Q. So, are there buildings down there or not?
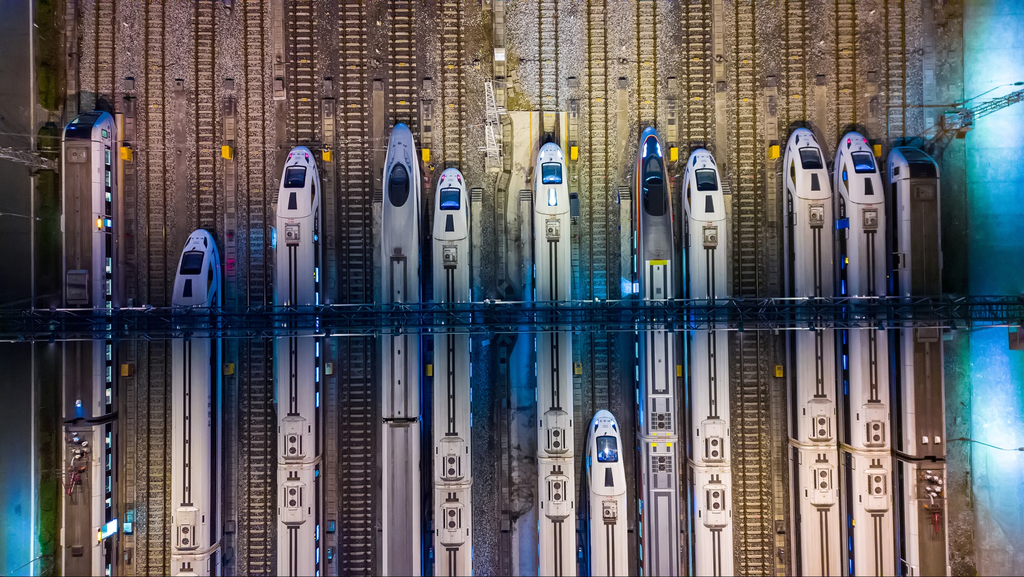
No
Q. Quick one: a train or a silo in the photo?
train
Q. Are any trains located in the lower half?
Yes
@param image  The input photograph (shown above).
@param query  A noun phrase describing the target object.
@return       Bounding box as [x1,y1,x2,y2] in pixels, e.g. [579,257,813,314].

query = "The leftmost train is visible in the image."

[63,112,119,577]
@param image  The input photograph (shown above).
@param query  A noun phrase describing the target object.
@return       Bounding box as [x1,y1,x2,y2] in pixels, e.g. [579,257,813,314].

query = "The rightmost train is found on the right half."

[885,143,947,577]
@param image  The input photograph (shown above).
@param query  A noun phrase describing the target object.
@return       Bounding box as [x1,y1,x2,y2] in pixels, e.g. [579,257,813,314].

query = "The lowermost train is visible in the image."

[587,409,629,577]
